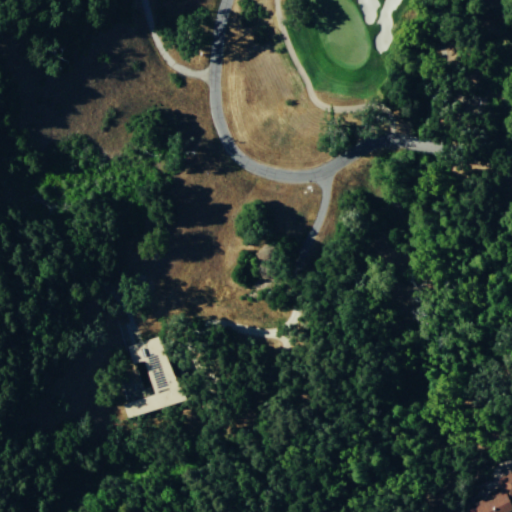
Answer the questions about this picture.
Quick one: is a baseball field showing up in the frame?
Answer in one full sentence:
No, I can't see a single baseball field in this photo.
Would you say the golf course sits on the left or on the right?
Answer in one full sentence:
The golf course is on the right side of the image.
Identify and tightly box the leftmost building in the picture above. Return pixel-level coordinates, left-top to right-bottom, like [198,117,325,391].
[124,337,183,418]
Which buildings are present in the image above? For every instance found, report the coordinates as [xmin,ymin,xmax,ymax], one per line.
[254,240,279,280]
[124,337,183,418]
[474,470,512,512]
